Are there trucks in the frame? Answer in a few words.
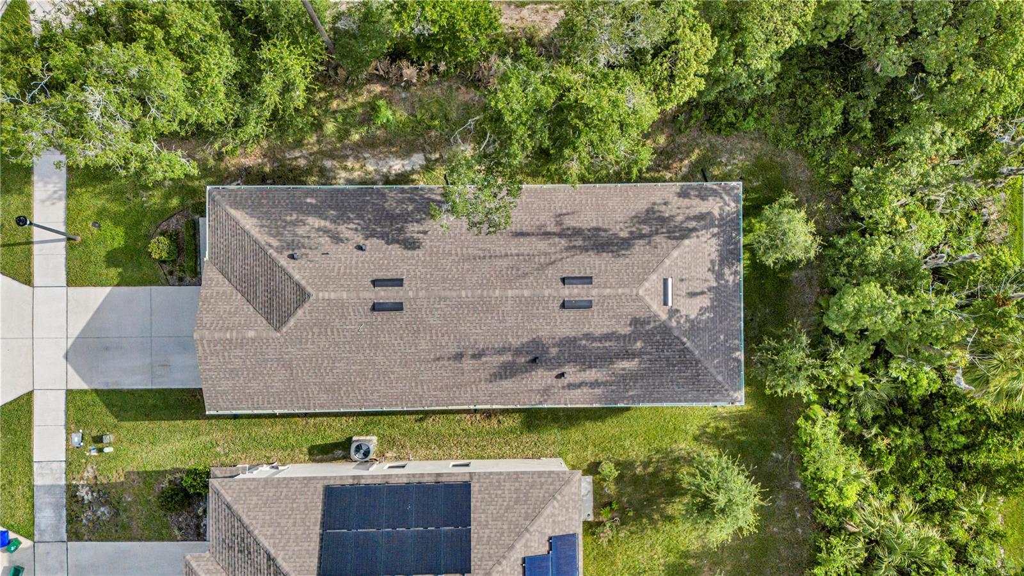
No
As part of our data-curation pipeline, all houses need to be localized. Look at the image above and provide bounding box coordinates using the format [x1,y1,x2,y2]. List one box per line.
[183,457,584,576]
[191,169,745,413]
